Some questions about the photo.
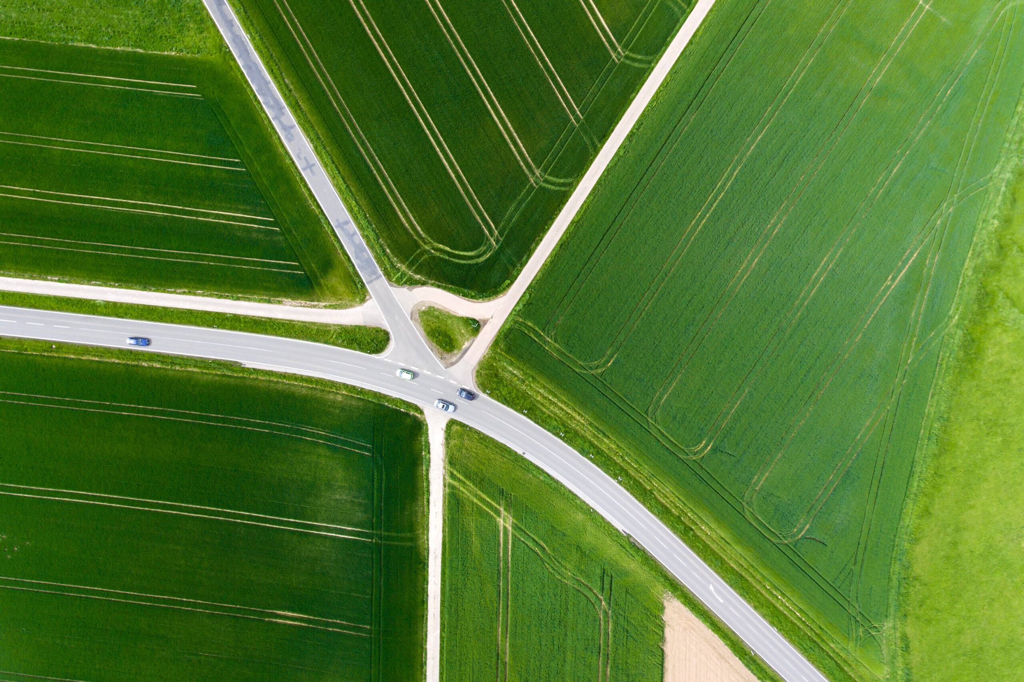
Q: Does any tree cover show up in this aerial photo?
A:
No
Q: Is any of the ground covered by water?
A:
No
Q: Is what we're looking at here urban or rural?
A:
rural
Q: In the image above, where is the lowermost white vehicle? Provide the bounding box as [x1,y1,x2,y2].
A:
[433,399,456,413]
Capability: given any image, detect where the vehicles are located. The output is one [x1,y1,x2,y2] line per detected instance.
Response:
[125,336,148,346]
[456,388,476,402]
[433,399,456,413]
[396,369,414,380]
